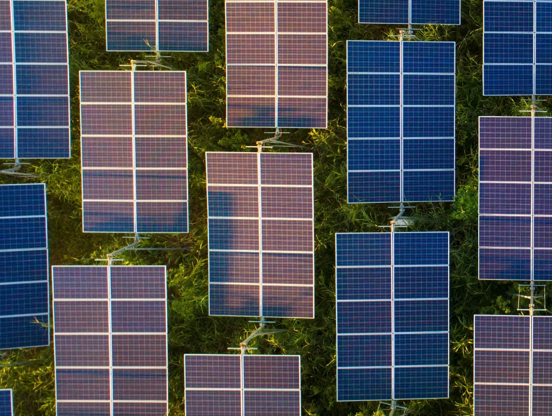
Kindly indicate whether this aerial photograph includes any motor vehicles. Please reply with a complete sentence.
No, there's no motor vehicle here.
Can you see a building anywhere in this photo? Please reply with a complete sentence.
No, there appears to be no building in this shot.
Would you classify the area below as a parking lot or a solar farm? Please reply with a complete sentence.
The picture captures a solar farm.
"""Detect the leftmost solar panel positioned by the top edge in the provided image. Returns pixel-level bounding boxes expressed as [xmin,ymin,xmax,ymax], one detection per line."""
[0,0,70,165]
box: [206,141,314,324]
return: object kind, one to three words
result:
solar panel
